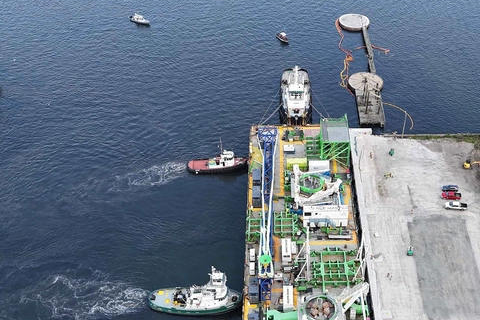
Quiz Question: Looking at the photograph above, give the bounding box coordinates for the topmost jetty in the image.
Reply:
[356,83,385,130]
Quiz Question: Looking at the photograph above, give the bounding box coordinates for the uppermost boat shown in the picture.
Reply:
[128,12,149,25]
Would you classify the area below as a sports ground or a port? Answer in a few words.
port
